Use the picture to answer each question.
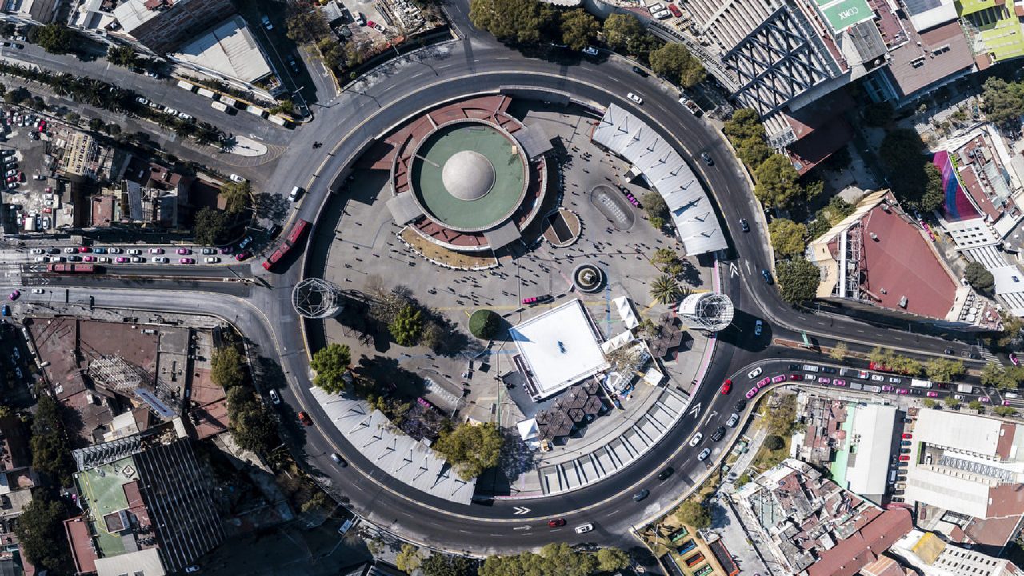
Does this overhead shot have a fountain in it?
Yes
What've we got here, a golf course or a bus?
bus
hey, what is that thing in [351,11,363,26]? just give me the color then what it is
white vehicle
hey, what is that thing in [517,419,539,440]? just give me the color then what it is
white tent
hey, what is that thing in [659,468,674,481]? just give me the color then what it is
black vehicle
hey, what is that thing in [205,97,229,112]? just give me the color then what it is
white vehicle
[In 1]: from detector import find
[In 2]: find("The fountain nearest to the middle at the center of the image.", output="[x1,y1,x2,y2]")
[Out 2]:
[569,259,601,292]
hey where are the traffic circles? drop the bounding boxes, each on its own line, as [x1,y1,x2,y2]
[242,34,778,560]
